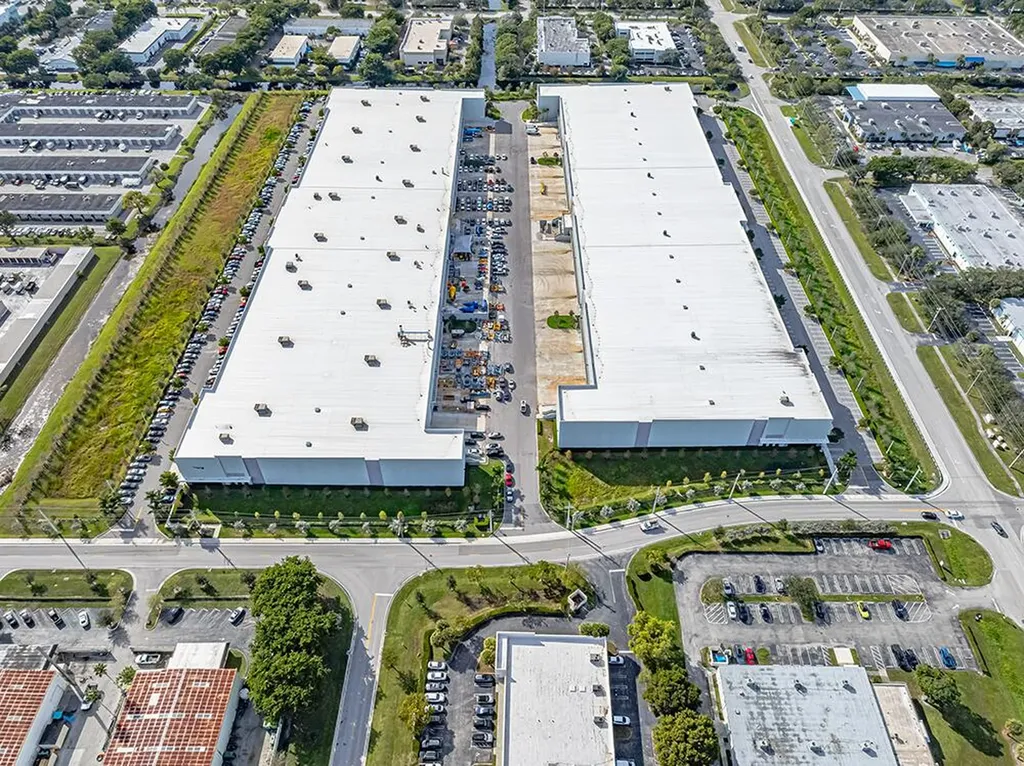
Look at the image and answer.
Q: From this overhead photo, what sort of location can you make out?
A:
industrial area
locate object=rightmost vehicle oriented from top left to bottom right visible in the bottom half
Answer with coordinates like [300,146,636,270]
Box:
[990,521,1007,535]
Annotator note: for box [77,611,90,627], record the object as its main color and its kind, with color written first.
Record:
white vehicle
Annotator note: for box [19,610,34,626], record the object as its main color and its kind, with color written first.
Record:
gray car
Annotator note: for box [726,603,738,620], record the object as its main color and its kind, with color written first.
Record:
white vehicle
